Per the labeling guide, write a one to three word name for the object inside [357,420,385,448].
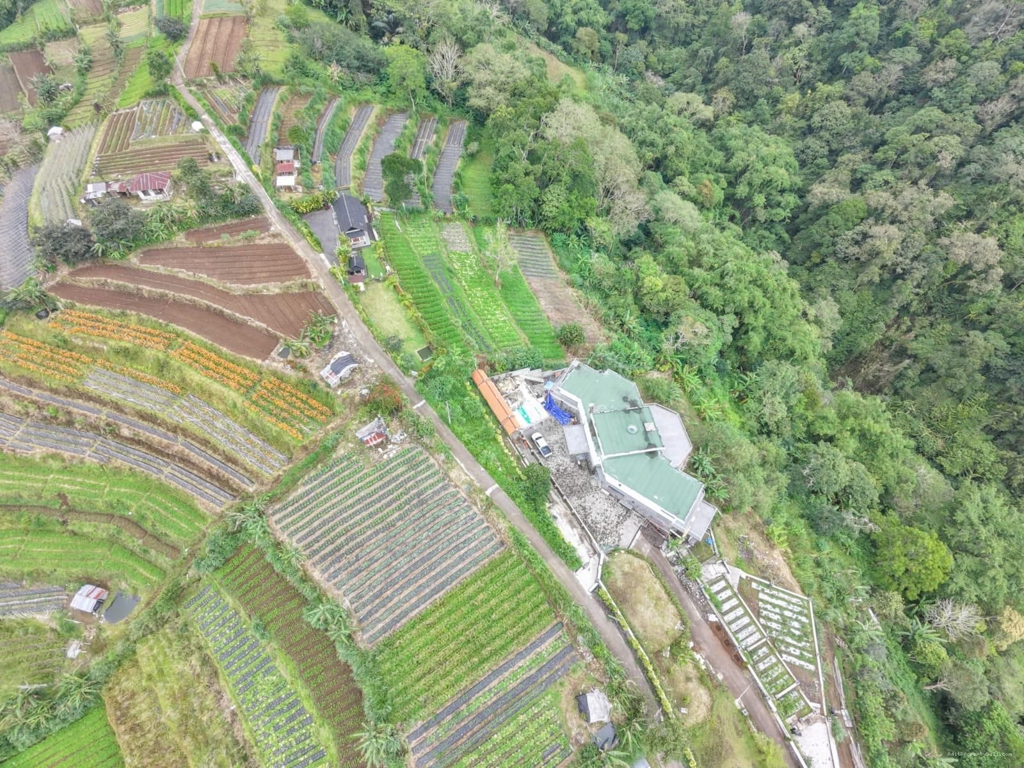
shed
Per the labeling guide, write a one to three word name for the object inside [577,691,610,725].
shed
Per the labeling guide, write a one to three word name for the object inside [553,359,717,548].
house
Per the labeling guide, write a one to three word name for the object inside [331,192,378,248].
house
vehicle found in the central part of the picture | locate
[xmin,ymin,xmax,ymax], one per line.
[529,429,554,459]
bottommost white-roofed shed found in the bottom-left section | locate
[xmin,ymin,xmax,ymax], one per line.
[70,583,107,619]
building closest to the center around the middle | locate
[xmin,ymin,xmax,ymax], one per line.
[472,371,521,440]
